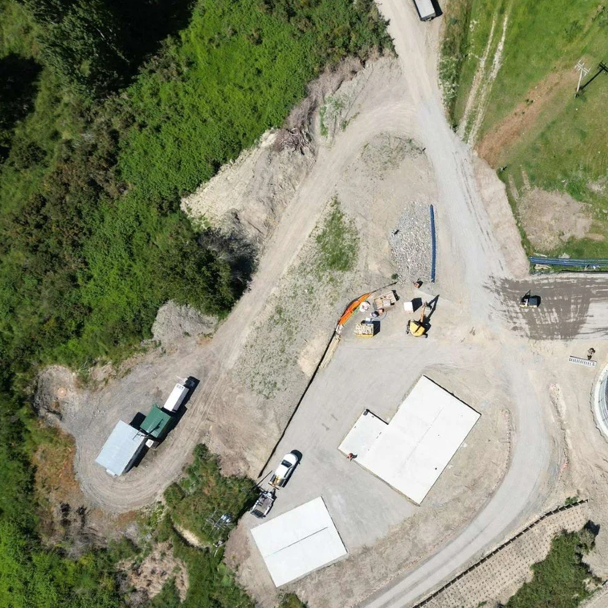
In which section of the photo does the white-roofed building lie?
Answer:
bottom left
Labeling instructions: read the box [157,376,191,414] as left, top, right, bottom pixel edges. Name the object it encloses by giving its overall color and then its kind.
white trailer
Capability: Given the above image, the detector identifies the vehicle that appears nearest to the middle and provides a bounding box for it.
[407,301,429,339]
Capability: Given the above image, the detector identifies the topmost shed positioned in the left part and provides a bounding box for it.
[134,405,174,438]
